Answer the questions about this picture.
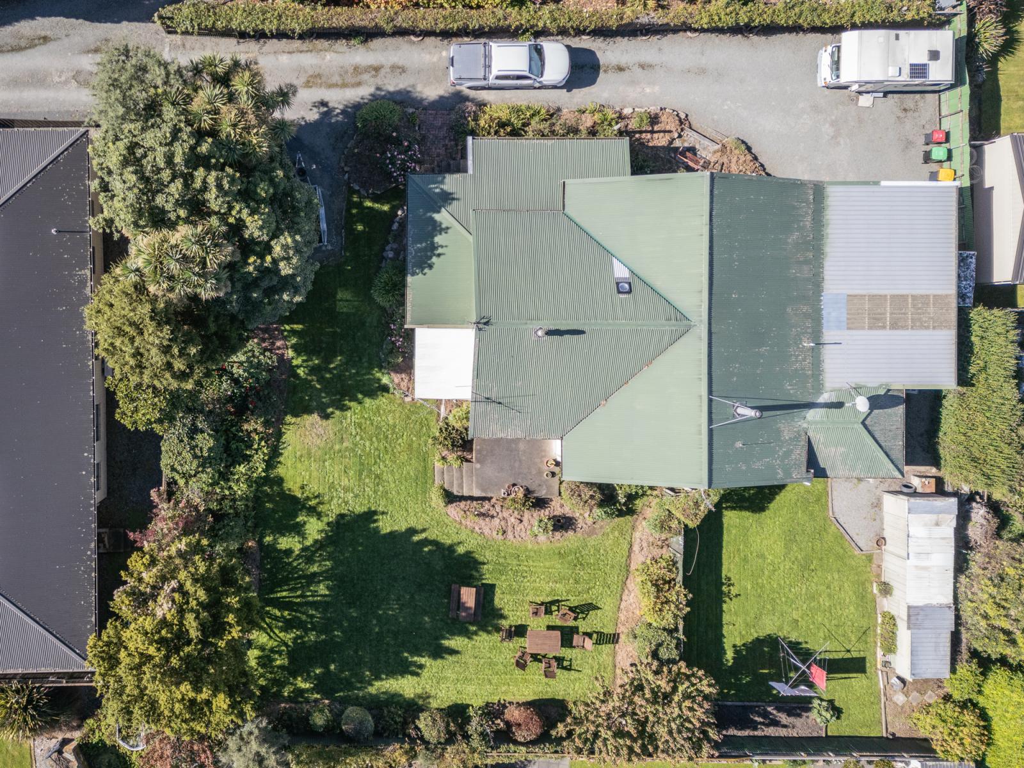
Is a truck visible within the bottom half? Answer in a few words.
No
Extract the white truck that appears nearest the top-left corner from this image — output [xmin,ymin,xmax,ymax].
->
[444,36,569,91]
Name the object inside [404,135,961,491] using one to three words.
house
